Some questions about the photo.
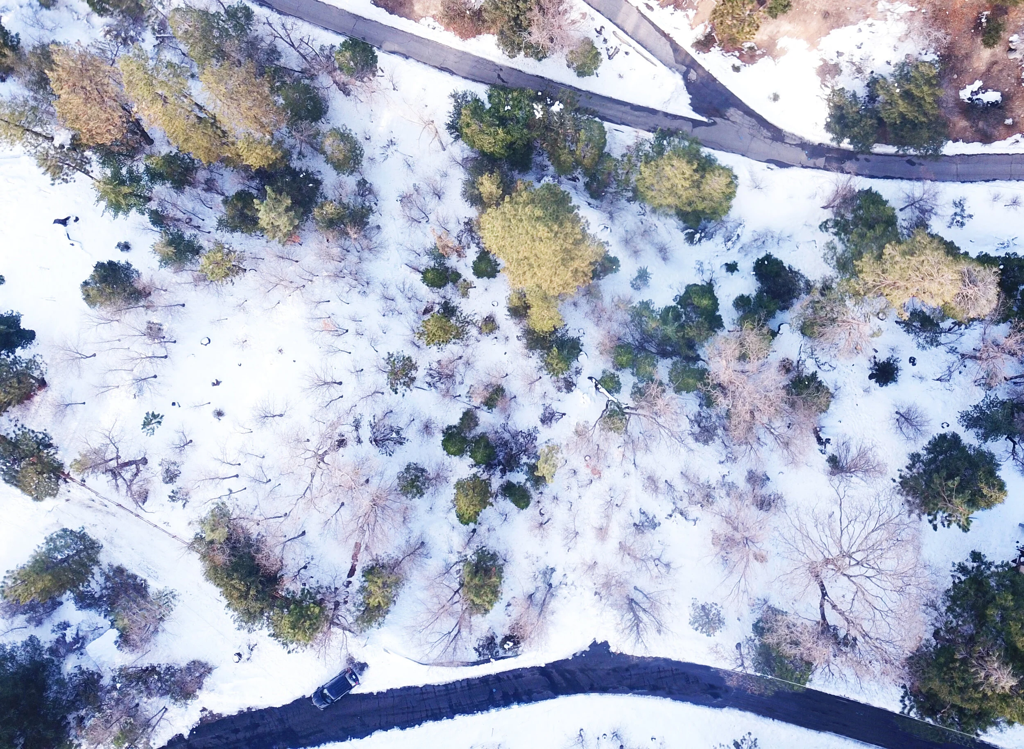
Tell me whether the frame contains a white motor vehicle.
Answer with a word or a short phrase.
No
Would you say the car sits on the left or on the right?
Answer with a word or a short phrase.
left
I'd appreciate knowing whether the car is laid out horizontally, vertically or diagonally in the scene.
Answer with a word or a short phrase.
diagonally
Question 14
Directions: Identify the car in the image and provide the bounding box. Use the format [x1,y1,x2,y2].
[311,667,361,709]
